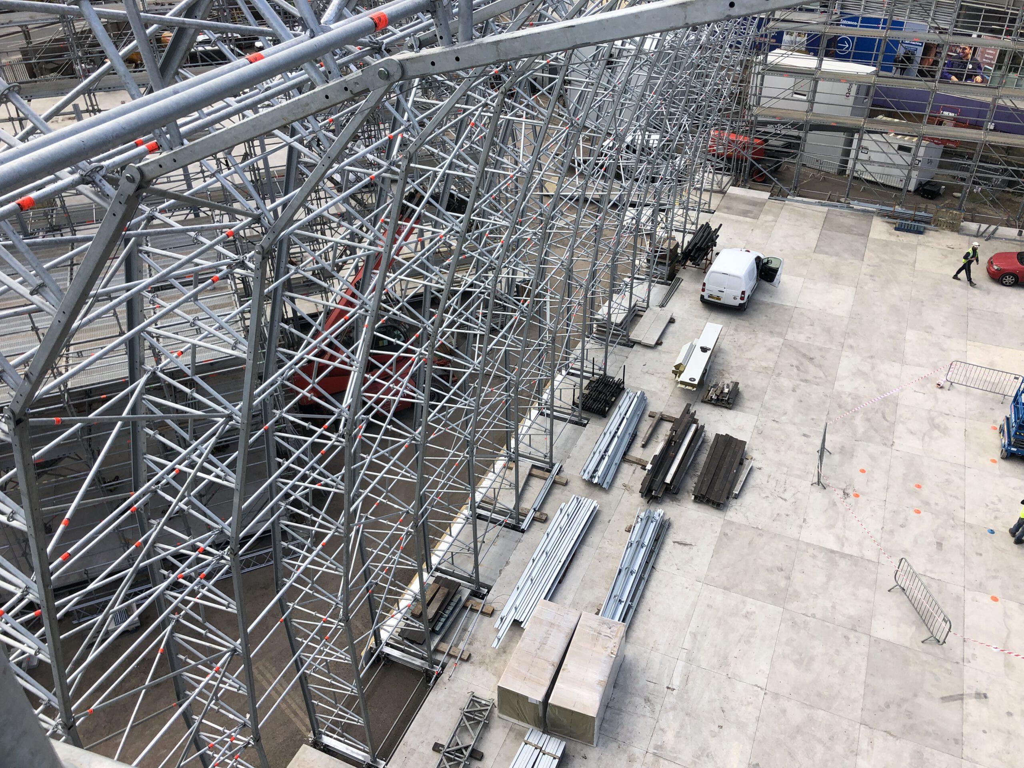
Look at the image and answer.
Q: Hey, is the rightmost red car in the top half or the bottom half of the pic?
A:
top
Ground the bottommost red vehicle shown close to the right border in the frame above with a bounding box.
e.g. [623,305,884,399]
[983,250,1024,287]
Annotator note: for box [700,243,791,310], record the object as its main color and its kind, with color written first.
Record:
white van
